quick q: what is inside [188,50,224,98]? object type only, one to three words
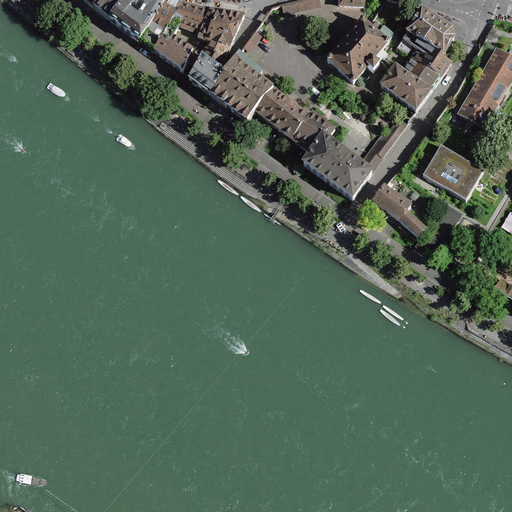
house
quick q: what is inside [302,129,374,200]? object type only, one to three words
house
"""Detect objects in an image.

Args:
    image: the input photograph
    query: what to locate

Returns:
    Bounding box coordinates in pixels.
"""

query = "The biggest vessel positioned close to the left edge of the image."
[14,472,48,486]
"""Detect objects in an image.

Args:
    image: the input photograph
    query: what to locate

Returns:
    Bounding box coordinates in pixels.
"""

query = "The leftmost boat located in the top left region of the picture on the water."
[46,84,66,97]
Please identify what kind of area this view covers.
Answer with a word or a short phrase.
residential area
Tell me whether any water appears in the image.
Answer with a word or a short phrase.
Yes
